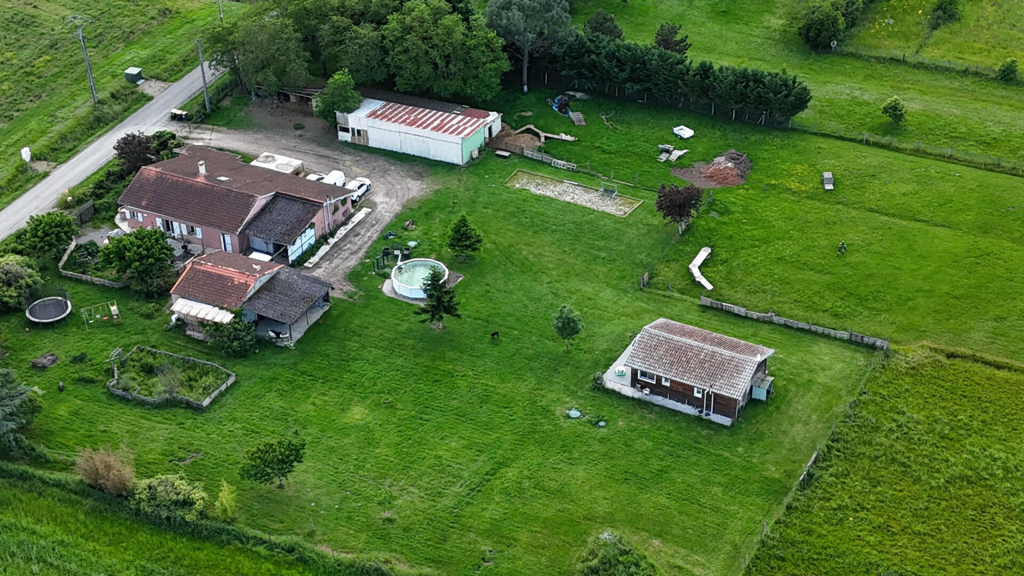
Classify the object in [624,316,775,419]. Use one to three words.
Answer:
building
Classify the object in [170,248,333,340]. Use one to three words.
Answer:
shed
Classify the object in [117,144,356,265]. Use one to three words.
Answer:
house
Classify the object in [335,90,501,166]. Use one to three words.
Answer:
barn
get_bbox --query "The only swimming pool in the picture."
[390,258,450,300]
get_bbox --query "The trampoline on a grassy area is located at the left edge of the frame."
[21,282,74,330]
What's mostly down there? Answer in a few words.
grass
